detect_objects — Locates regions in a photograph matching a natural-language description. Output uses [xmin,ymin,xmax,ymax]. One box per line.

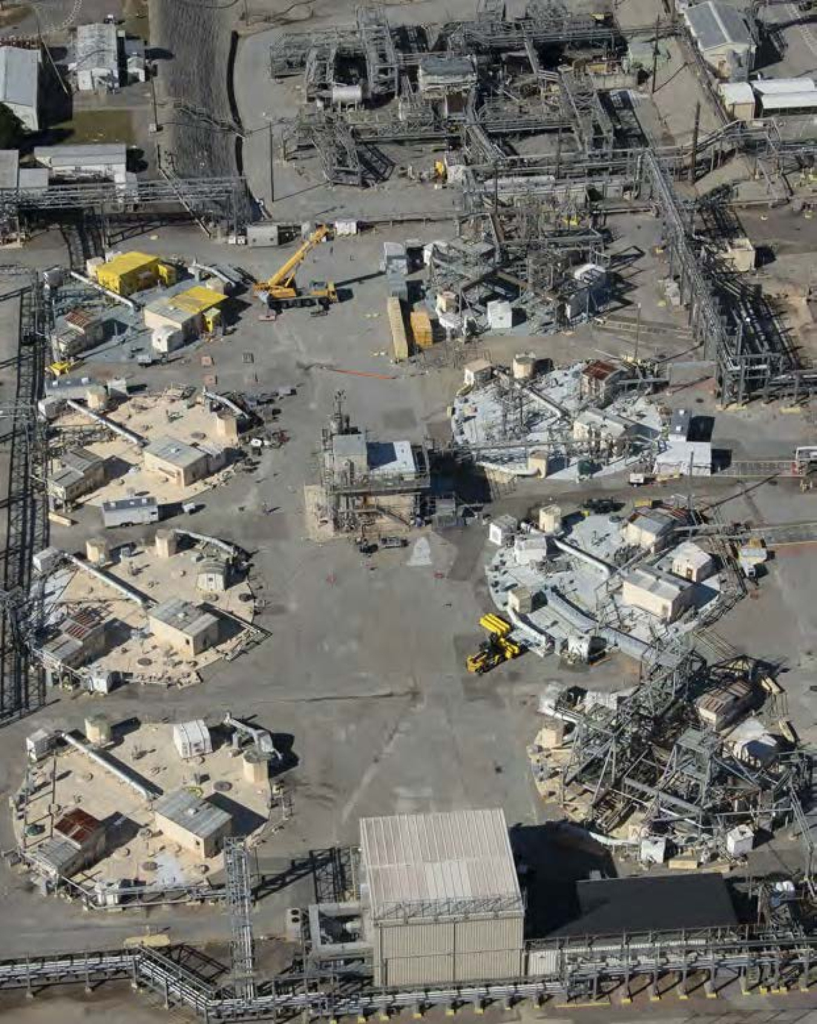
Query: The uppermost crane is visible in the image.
[254,223,339,312]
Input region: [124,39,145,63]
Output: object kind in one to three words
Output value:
shed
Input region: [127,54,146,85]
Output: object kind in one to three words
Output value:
building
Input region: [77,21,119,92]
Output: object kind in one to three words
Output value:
barn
